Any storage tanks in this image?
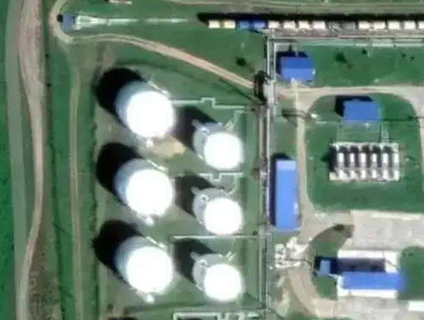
Yes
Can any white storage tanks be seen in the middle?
Yes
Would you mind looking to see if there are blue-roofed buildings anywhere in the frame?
Yes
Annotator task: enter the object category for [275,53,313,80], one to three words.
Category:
building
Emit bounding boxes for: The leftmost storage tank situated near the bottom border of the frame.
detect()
[116,233,174,305]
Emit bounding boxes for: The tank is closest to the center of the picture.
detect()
[190,119,242,170]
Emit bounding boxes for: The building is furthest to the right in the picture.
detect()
[339,97,379,121]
